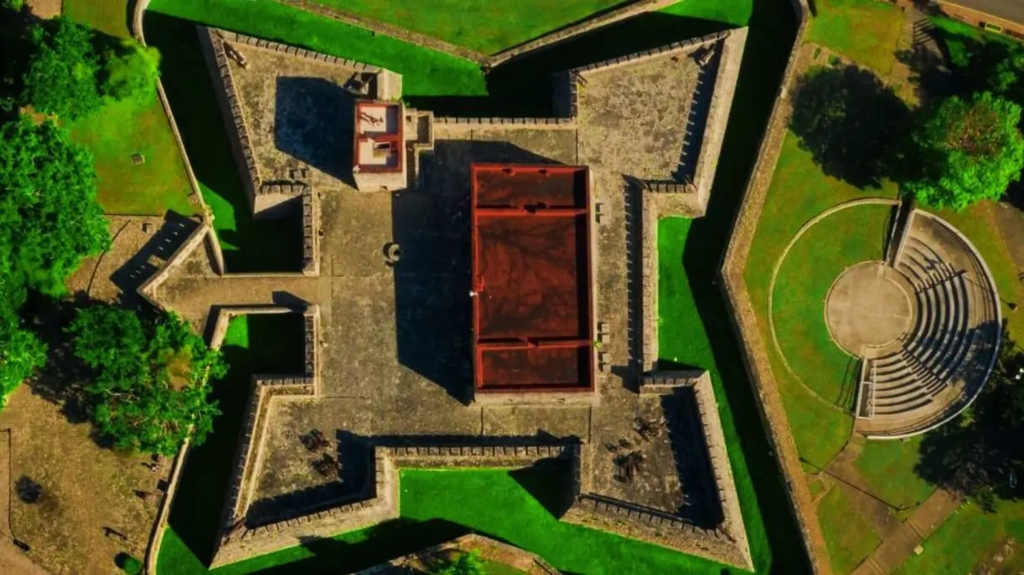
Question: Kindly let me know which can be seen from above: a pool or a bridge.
bridge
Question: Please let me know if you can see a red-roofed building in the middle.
Yes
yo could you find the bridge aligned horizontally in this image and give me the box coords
[214,273,332,322]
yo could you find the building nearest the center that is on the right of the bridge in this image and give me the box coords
[469,165,599,406]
